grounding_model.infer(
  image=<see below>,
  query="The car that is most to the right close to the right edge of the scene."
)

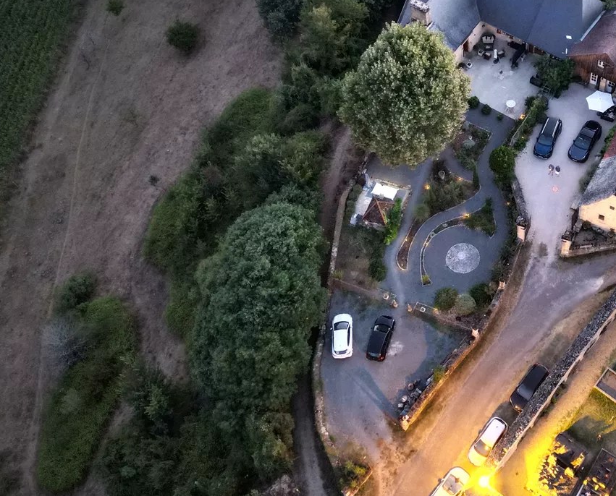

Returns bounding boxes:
[571,121,601,163]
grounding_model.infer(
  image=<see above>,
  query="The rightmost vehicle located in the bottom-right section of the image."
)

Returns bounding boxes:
[503,358,548,413]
